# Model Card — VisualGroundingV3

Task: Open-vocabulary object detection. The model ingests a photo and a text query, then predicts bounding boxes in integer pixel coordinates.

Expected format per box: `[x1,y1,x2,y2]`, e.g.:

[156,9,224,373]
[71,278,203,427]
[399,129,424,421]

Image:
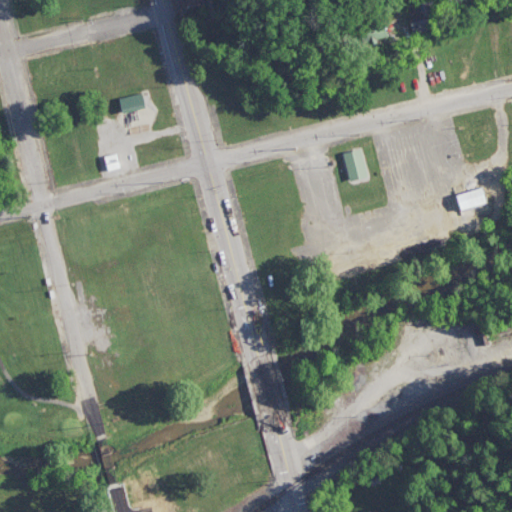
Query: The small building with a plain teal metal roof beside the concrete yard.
[120,94,144,112]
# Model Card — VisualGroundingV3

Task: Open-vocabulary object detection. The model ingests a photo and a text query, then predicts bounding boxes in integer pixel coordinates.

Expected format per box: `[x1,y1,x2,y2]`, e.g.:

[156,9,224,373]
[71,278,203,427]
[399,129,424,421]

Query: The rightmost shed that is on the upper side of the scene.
[457,186,488,212]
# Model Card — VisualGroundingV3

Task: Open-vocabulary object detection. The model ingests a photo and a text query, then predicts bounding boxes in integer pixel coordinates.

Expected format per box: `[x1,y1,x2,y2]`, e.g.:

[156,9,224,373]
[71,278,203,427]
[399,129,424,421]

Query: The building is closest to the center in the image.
[344,148,369,182]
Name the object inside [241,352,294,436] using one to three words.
bridge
